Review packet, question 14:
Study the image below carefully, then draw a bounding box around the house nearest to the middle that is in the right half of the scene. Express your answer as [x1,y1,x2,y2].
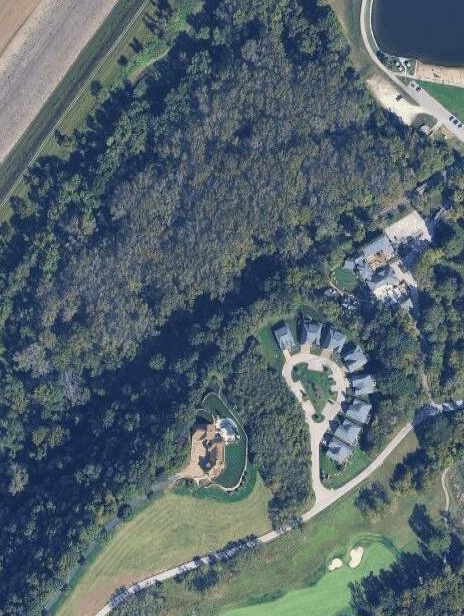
[273,320,294,350]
